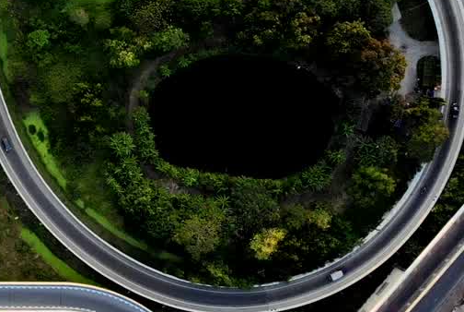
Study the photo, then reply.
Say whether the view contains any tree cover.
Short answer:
Yes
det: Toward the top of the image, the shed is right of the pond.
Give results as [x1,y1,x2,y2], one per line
[412,54,436,90]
